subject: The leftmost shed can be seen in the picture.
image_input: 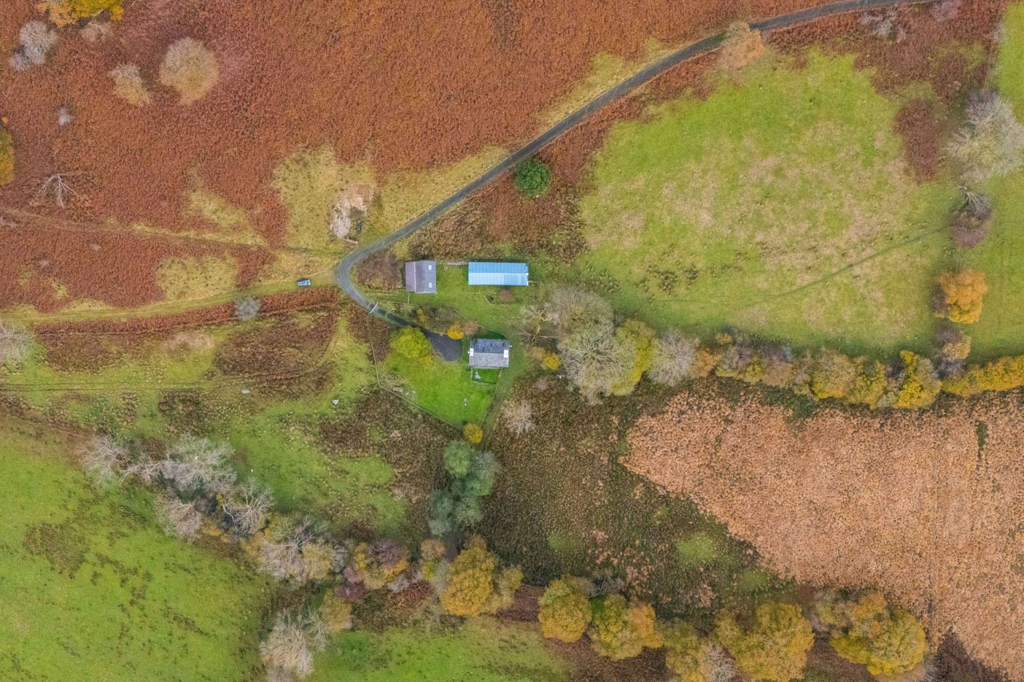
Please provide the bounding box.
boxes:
[406,260,437,294]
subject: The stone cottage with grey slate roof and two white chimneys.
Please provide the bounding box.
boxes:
[469,339,511,369]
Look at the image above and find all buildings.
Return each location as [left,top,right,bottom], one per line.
[468,262,529,287]
[406,260,437,294]
[469,339,511,369]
